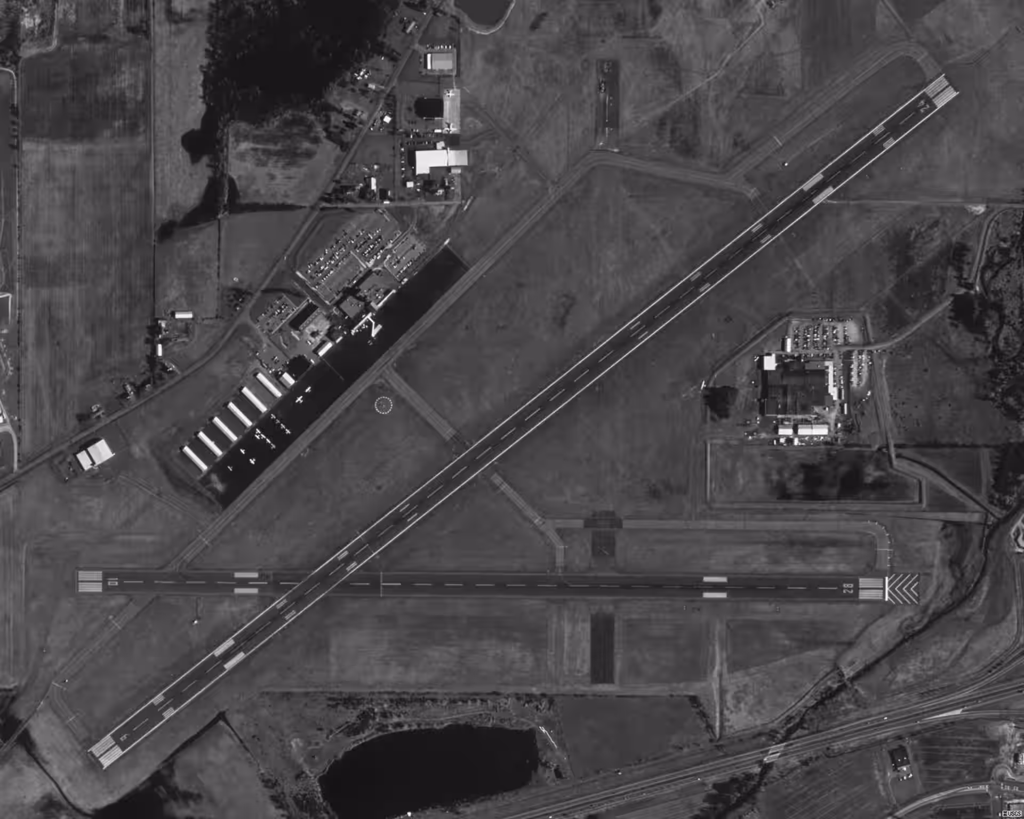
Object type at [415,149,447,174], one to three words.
hangar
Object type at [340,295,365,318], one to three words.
building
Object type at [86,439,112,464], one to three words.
building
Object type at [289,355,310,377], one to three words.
hangar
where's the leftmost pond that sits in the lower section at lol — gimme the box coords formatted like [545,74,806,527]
[318,723,540,819]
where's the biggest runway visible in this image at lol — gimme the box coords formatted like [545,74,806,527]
[87,72,960,772]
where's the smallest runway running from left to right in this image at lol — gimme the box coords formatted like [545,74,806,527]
[77,570,887,601]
